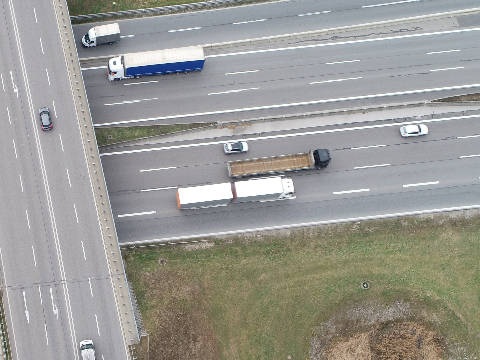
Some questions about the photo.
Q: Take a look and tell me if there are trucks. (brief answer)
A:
Yes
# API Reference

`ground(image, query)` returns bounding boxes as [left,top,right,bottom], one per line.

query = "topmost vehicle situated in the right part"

[400,122,429,137]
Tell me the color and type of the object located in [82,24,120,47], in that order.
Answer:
white truck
